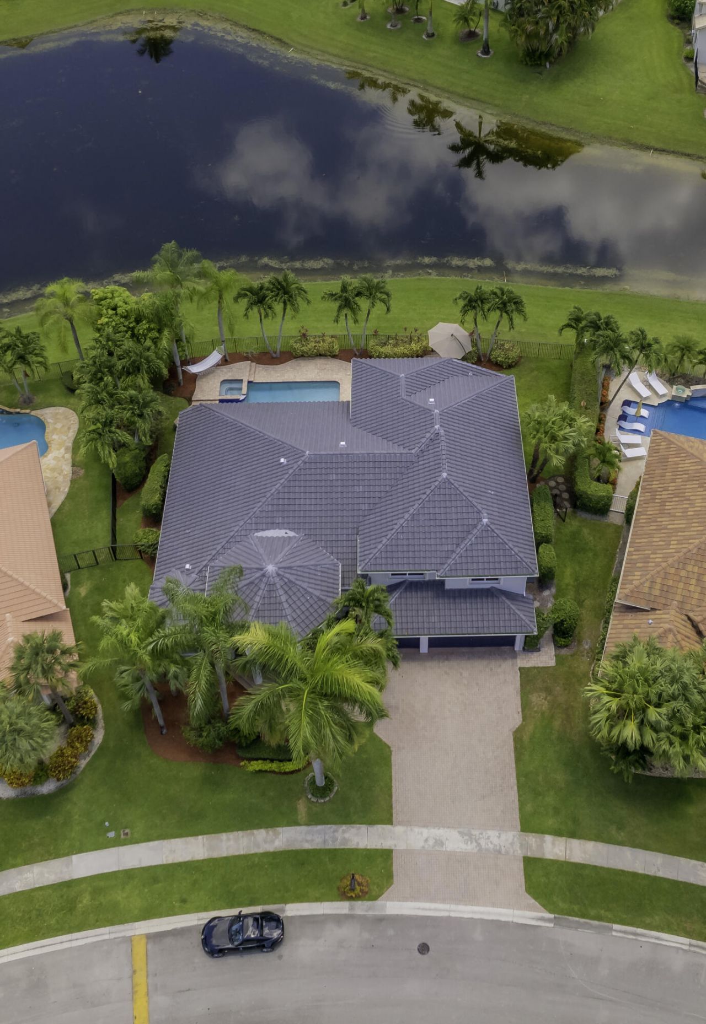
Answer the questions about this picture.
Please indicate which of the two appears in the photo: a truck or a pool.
pool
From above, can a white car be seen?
No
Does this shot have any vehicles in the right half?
No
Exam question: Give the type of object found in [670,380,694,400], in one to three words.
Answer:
fountain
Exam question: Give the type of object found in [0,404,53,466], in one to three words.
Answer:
swimming pool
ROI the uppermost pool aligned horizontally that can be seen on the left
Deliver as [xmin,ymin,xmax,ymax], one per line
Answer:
[190,360,343,405]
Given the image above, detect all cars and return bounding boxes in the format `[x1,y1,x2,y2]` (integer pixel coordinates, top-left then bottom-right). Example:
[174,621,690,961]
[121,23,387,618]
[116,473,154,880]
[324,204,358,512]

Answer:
[201,914,284,960]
